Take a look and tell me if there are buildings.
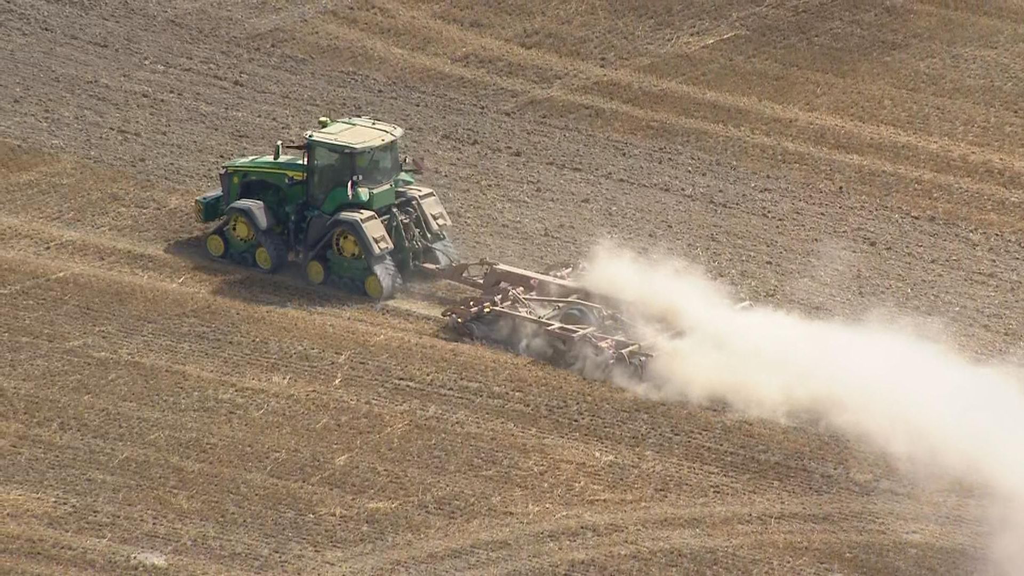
No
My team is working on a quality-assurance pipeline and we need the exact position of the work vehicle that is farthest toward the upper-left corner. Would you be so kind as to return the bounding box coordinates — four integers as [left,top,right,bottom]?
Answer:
[199,115,464,303]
